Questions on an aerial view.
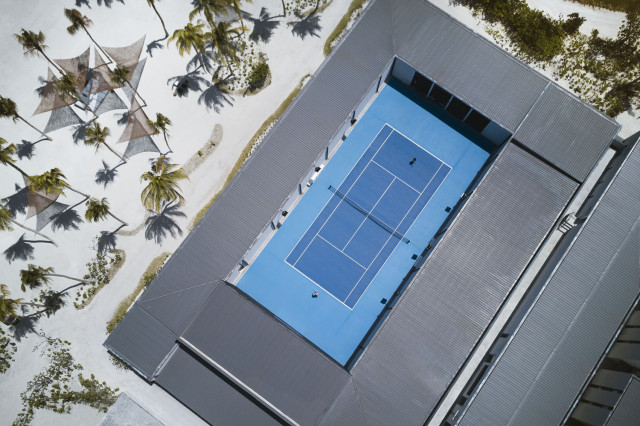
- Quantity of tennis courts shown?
1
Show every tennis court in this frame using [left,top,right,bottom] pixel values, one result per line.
[232,72,502,369]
